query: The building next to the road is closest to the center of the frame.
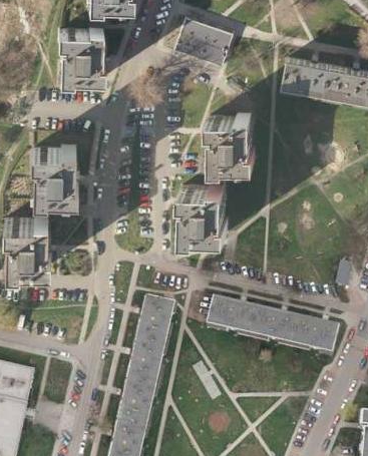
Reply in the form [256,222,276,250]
[174,184,227,253]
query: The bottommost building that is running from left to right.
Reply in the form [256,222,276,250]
[208,292,340,351]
